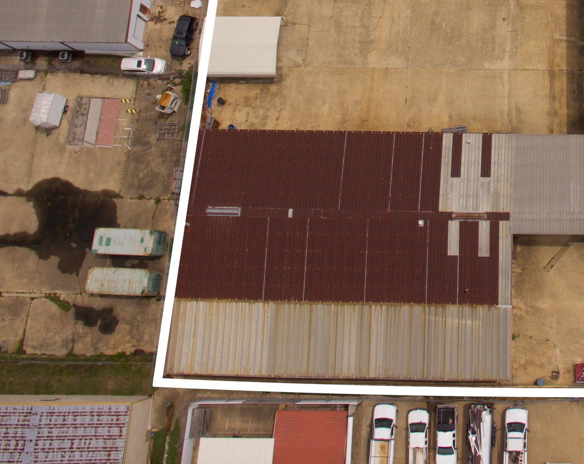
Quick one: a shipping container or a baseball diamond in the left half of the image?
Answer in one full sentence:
It is a shipping container that can be seen in the left half of the image.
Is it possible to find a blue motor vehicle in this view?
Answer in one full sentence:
No, the frame has no blue motor vehicle in it.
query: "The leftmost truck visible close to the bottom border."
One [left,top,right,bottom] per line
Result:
[370,402,397,464]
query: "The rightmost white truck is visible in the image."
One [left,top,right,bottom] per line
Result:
[502,405,529,464]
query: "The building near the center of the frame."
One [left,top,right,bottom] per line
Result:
[164,127,512,380]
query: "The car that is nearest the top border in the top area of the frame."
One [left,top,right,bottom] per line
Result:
[169,13,200,60]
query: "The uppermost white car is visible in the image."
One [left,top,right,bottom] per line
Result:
[118,55,170,78]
